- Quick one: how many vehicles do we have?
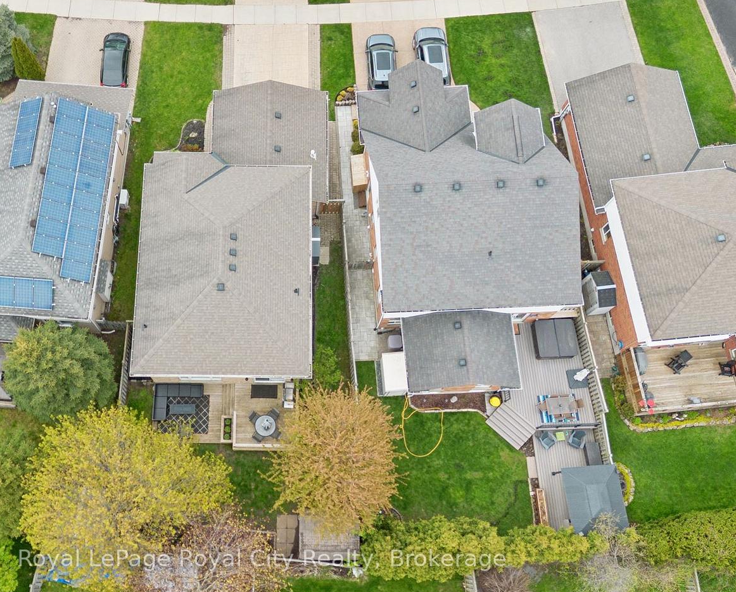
3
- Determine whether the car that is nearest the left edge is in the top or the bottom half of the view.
top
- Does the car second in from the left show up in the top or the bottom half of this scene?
top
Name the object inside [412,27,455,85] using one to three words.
car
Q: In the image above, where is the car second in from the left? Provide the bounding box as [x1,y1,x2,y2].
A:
[366,36,400,91]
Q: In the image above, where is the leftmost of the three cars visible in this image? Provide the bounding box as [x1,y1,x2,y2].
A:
[99,33,132,88]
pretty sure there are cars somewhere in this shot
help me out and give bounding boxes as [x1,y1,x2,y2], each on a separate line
[99,33,132,88]
[366,36,400,91]
[412,27,455,85]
